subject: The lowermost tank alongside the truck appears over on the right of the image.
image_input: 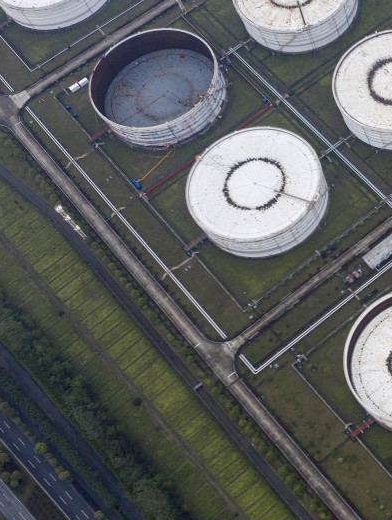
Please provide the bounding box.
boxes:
[184,126,331,260]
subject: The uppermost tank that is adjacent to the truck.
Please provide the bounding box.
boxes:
[88,27,229,149]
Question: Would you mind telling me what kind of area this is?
industrial area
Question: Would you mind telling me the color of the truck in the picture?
blue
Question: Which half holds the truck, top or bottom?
top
